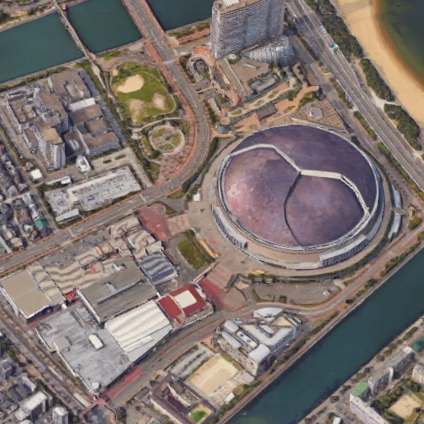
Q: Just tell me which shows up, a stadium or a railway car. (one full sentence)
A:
Of the two, only a stadium appears.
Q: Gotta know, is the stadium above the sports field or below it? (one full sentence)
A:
It's above the sports field that the stadium shows up.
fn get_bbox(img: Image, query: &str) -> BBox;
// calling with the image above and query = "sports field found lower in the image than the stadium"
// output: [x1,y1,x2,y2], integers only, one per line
[190,358,238,393]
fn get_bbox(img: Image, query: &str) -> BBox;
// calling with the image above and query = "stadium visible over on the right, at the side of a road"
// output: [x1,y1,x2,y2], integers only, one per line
[206,125,390,277]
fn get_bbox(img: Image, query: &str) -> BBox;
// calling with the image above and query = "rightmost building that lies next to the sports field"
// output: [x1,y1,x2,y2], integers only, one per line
[214,308,297,375]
